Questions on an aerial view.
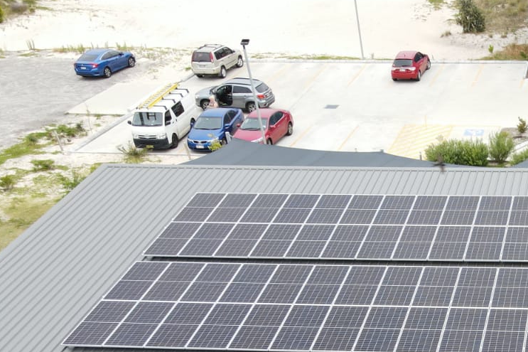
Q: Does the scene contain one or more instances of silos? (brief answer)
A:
No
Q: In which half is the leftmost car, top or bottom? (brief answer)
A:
top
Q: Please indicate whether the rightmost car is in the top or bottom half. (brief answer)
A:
top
